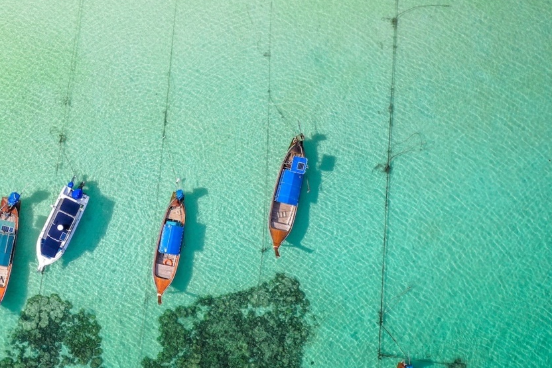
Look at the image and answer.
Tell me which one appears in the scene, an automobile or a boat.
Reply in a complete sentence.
There is a boat in the scene.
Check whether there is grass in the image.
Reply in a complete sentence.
No, the scene doesn't show any grass.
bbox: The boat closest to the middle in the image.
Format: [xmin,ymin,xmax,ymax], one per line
[268,121,307,258]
